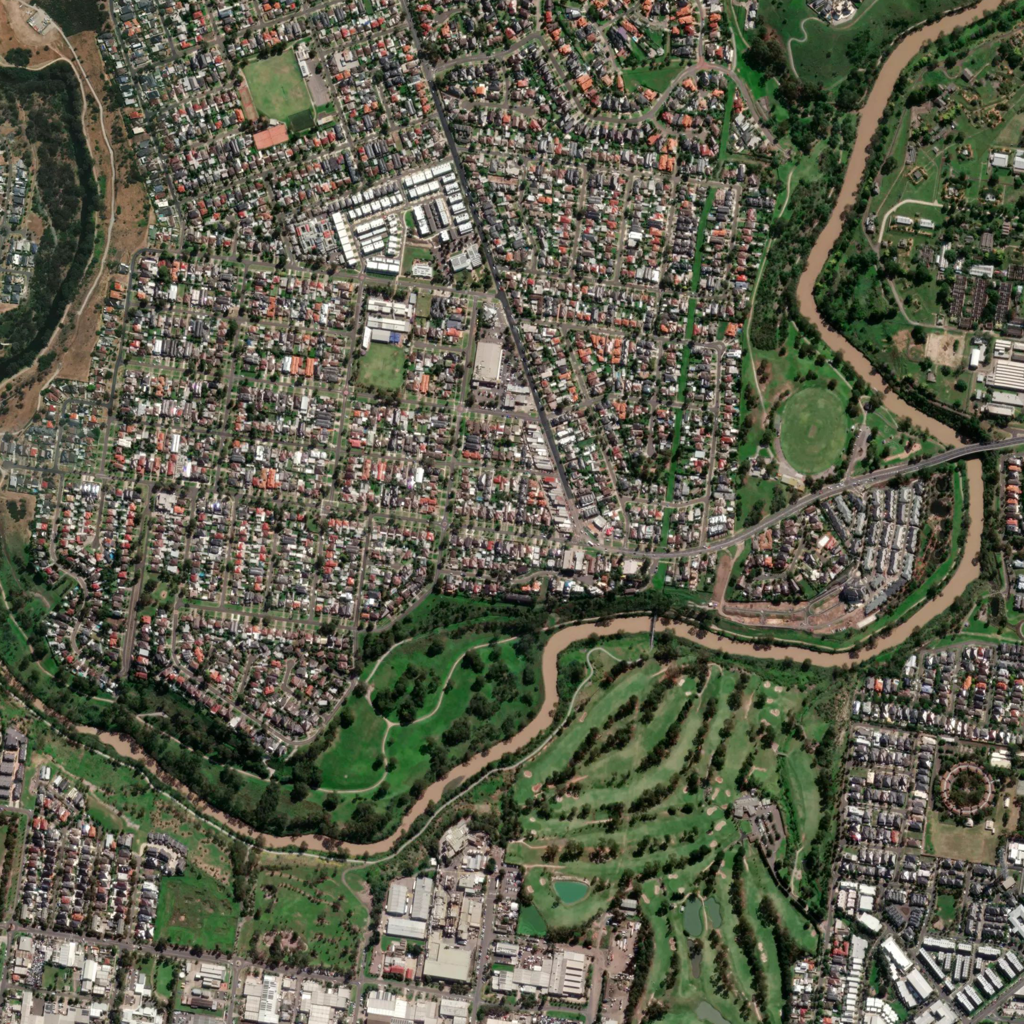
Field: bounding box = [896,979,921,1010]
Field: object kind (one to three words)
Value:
building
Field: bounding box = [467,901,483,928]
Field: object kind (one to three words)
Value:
building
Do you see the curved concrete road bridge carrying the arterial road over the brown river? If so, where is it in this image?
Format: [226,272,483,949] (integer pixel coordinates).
[913,435,1024,472]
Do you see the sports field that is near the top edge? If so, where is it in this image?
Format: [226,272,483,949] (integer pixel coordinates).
[244,49,314,121]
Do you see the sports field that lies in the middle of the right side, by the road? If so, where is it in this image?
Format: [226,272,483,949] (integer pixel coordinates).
[779,387,849,476]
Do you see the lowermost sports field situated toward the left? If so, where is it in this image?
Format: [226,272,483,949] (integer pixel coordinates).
[357,344,405,389]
